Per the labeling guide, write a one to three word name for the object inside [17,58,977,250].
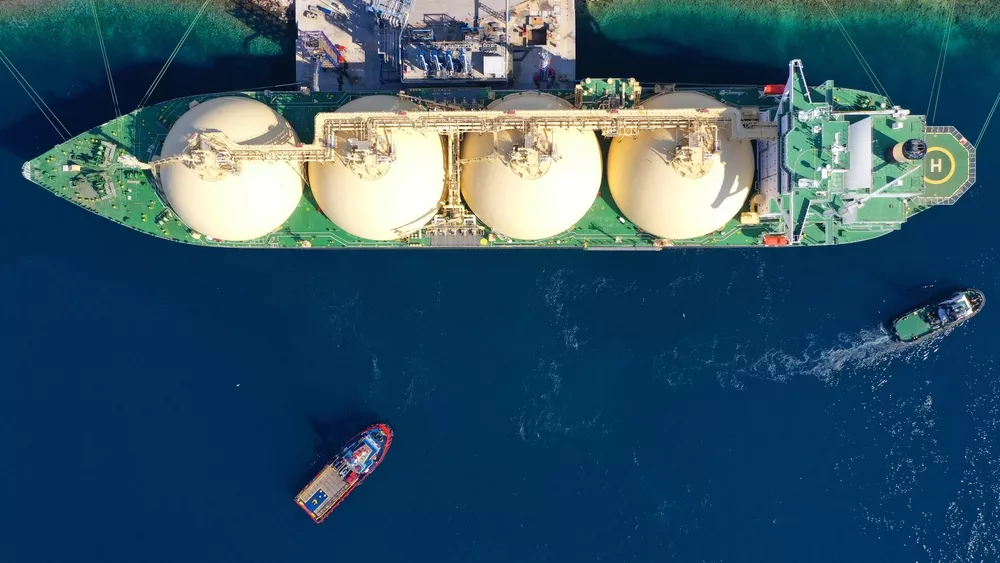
ship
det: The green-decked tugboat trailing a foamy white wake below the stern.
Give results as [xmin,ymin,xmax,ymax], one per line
[893,293,989,345]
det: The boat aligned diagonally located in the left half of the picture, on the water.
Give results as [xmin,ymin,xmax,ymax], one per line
[295,422,394,522]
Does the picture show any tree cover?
No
